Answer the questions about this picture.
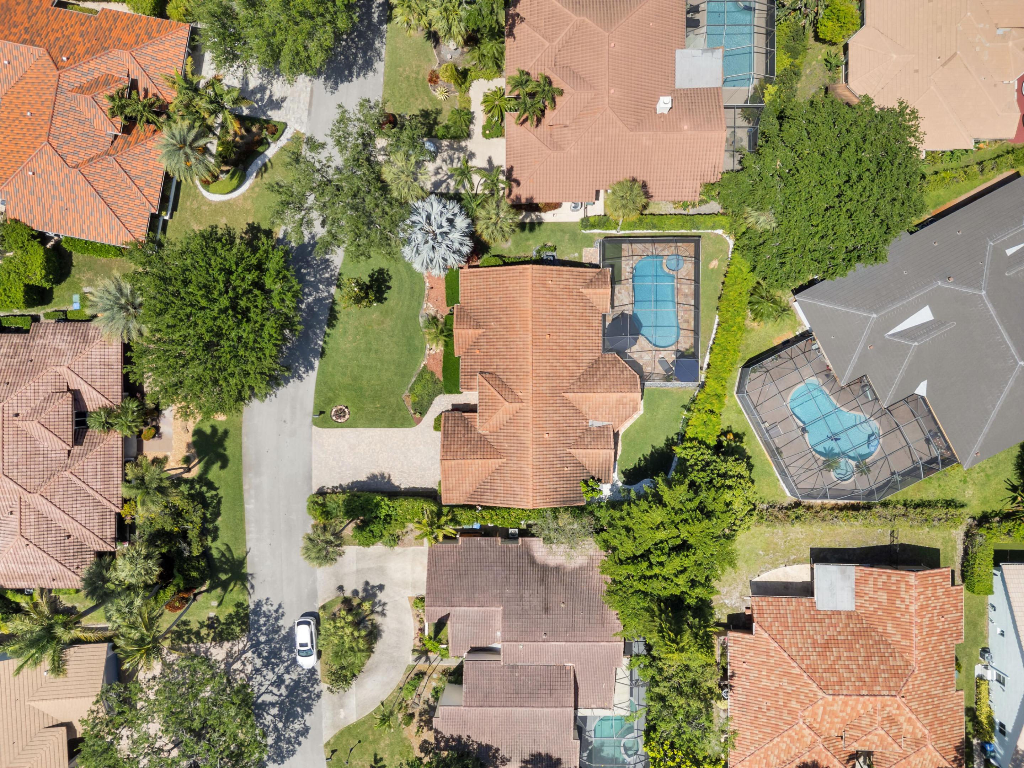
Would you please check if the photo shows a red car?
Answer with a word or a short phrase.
No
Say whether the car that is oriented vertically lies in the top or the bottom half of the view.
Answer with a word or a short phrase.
bottom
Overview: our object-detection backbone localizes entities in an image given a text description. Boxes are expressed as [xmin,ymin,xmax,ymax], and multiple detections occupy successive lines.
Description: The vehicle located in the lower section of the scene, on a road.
[295,615,320,668]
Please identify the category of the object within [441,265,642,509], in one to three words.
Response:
house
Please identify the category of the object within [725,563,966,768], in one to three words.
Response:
house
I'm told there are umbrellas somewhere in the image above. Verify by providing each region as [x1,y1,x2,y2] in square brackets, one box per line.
[604,317,640,353]
[673,358,698,383]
